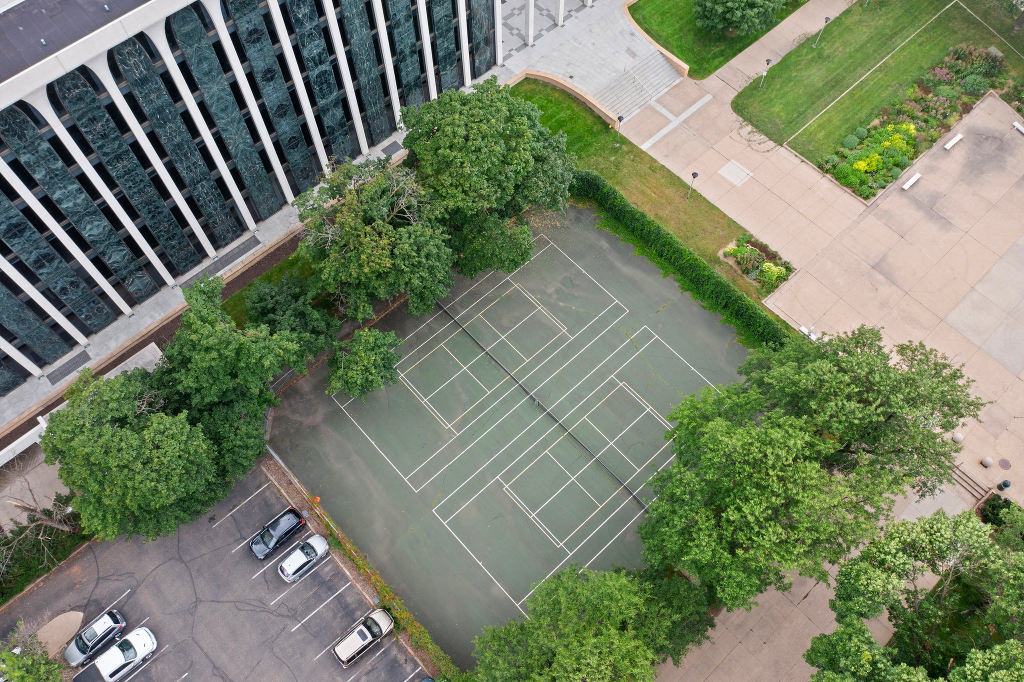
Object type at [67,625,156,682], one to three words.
truck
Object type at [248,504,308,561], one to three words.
car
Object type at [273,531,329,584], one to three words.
car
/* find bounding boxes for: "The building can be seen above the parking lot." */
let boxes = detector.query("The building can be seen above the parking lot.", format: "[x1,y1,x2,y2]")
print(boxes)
[0,0,592,397]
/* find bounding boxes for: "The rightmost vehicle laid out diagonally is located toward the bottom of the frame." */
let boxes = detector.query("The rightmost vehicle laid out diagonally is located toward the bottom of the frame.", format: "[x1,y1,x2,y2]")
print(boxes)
[329,609,394,672]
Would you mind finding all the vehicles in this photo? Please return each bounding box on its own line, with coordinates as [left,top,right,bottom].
[59,608,126,671]
[273,531,329,584]
[329,609,394,672]
[248,504,308,561]
[67,625,156,682]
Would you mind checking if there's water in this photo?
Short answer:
No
